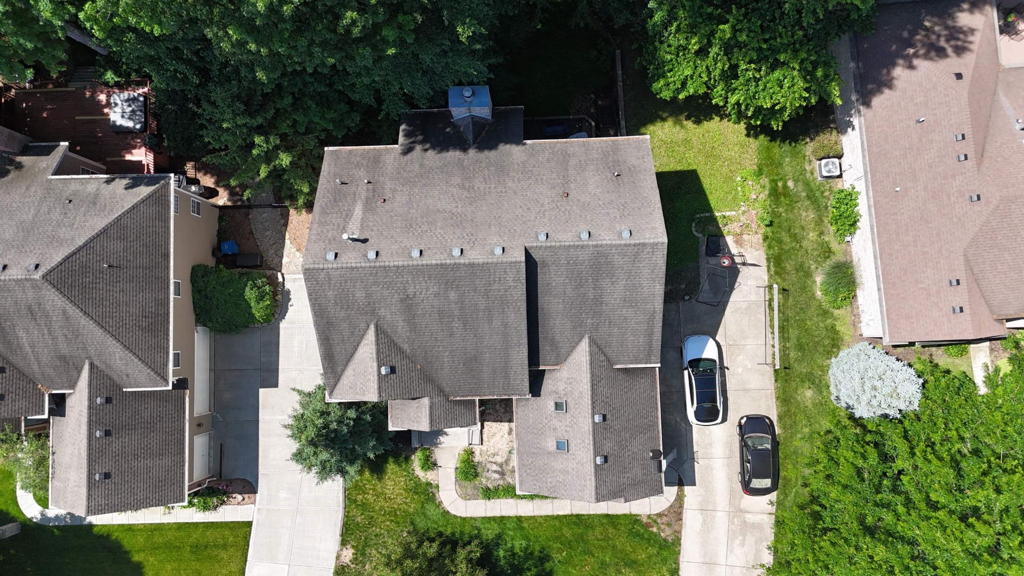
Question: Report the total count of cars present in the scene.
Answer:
2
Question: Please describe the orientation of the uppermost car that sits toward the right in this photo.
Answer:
from top to bottom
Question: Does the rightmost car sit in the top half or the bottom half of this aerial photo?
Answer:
bottom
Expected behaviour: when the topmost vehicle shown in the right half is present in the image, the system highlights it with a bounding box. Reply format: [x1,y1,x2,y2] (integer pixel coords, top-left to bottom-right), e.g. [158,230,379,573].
[680,336,723,425]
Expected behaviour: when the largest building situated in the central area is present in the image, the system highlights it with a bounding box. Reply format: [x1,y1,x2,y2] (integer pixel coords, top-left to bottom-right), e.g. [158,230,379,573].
[303,85,669,502]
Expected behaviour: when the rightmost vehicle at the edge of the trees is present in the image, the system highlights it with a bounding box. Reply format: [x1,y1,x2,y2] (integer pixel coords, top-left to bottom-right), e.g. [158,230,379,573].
[736,413,778,497]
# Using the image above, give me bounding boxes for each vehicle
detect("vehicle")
[680,336,723,425]
[736,413,778,497]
